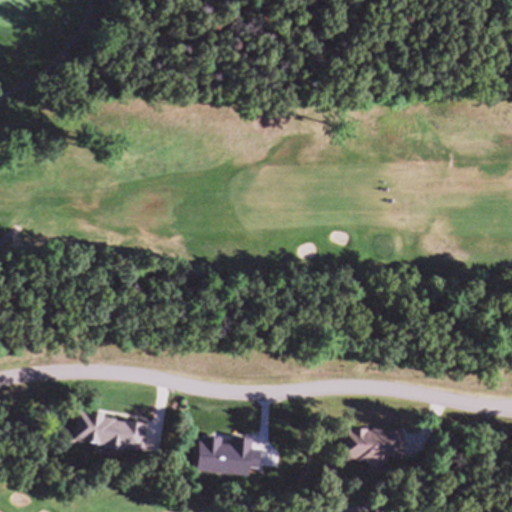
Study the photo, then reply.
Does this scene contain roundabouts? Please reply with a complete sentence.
No, the frame has no roundabout in it.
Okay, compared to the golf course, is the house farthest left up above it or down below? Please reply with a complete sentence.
In the image, the house farthest left sits below the golf course.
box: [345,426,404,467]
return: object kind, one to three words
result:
house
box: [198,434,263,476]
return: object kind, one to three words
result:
house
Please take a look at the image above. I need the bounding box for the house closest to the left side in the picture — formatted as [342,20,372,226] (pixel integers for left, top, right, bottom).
[68,408,144,450]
